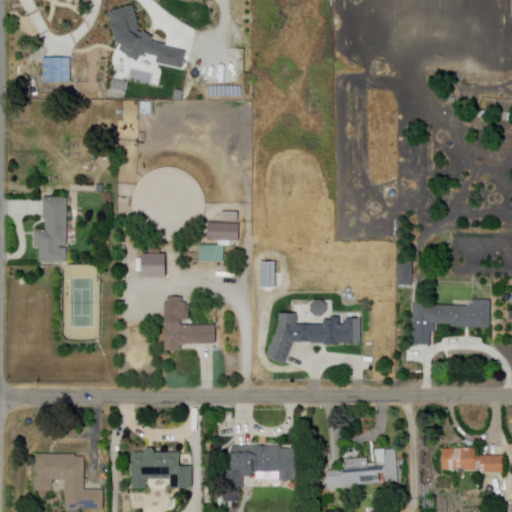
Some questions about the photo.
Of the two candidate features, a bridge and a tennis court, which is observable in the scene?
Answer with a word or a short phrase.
tennis court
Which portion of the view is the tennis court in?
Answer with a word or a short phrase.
left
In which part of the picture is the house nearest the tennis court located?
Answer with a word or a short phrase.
left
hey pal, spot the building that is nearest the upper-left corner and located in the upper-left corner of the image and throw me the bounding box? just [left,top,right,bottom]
[42,56,70,82]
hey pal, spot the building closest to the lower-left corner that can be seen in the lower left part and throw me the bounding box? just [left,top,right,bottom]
[34,454,103,510]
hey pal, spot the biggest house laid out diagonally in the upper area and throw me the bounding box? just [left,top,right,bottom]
[109,6,186,66]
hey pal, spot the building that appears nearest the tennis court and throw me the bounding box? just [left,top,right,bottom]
[33,196,66,262]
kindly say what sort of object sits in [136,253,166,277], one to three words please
barn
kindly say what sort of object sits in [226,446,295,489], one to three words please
house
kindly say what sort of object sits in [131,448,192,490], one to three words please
building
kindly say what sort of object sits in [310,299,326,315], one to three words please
gazebo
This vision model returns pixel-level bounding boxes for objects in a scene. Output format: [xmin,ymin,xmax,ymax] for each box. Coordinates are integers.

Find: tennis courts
[63,264,101,340]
